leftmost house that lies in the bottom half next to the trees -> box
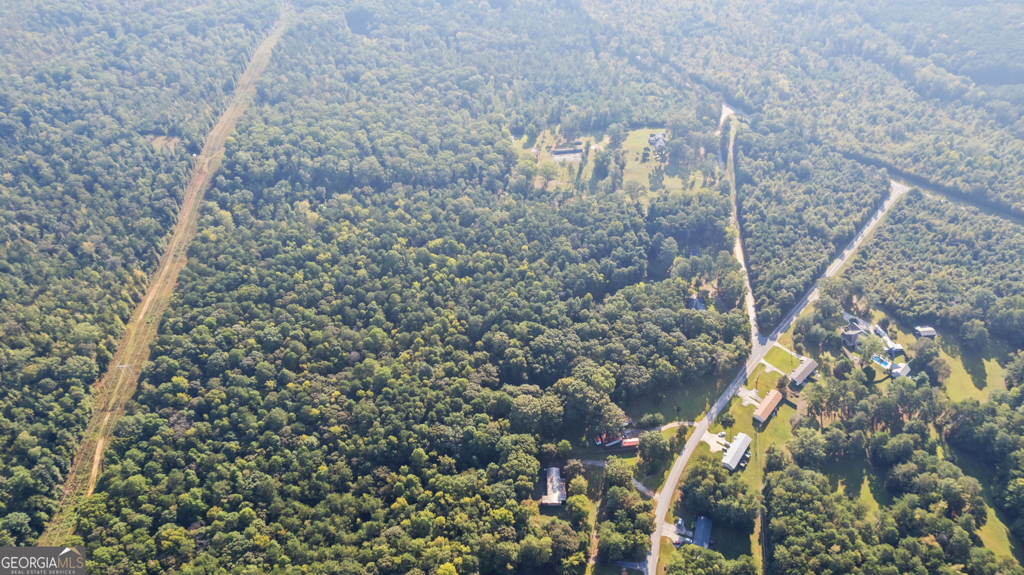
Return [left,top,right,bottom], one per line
[542,467,567,509]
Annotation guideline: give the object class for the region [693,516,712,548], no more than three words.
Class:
house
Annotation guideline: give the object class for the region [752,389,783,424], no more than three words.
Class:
house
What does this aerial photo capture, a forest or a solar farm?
forest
